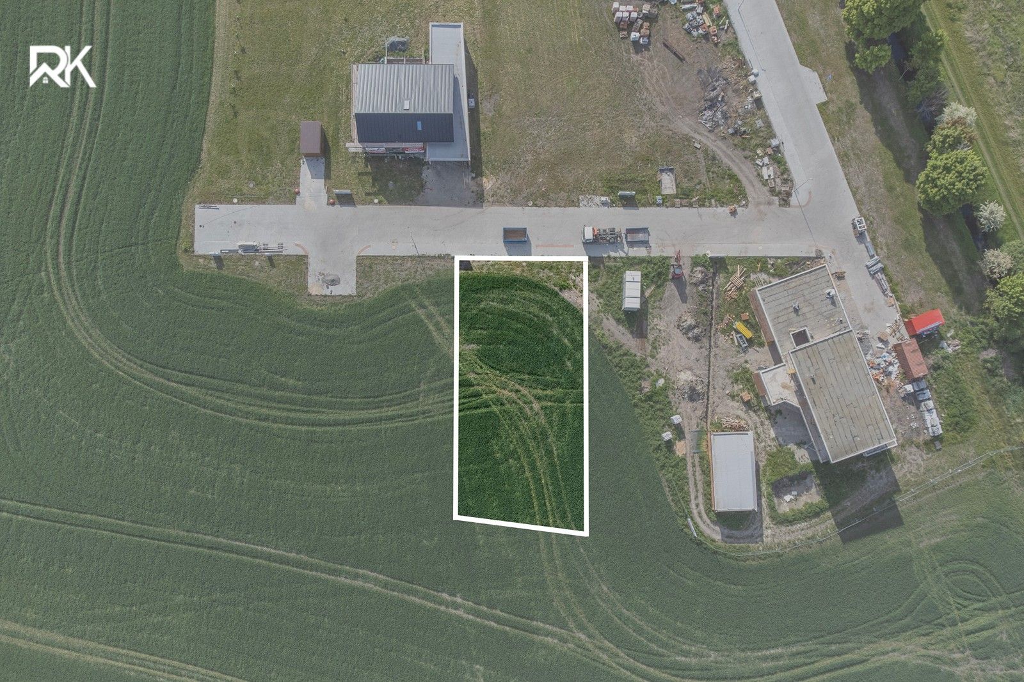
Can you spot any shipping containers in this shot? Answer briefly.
Yes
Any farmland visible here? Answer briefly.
Yes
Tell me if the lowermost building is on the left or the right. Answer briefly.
right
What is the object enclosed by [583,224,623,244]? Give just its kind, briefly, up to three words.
vehicle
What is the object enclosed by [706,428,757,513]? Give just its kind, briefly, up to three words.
building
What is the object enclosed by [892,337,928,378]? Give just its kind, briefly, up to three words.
shipping container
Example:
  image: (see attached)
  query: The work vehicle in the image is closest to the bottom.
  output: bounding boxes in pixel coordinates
[671,255,683,281]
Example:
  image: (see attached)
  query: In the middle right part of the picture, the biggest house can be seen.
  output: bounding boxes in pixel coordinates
[748,265,897,463]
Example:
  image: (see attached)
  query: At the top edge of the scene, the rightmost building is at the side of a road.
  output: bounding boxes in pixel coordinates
[354,23,472,168]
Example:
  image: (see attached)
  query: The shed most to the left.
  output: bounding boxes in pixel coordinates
[300,121,325,159]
